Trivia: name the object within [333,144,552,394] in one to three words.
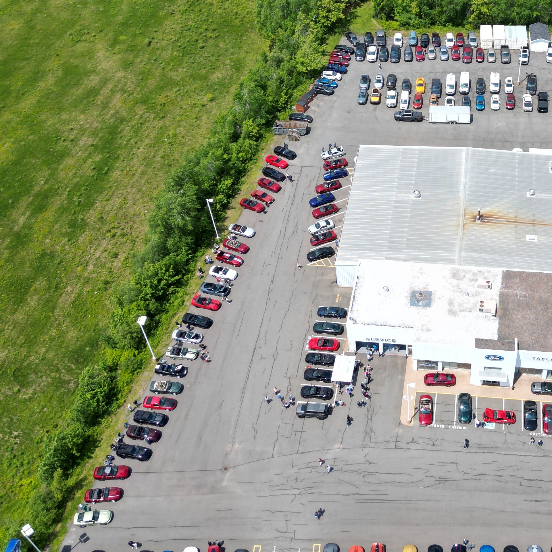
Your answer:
building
